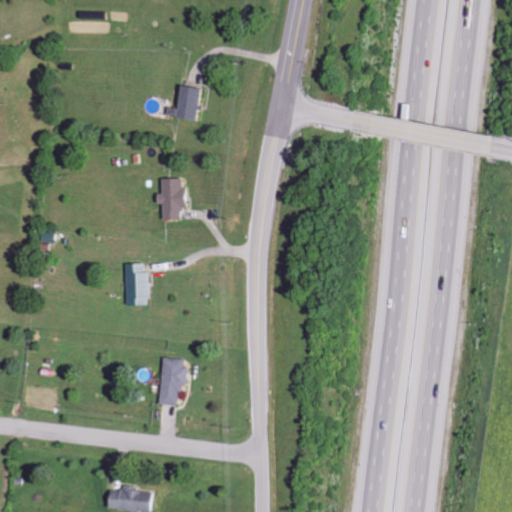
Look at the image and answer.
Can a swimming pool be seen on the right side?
No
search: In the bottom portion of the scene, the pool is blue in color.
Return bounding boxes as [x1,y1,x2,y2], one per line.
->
[136,366,152,384]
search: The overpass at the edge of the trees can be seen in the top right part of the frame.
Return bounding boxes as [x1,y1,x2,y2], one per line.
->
[358,111,494,158]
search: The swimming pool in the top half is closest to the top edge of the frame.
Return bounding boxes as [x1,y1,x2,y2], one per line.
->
[144,98,161,115]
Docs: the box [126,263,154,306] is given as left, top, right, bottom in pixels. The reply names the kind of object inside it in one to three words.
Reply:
house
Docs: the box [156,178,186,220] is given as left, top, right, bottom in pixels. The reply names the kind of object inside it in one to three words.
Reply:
house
